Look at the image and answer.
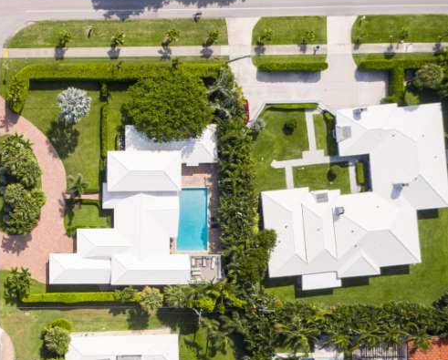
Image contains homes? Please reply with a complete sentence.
Yes, there's a home here.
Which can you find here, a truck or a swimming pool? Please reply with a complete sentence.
It is a swimming pool that can be seen here.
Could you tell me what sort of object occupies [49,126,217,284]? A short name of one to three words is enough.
house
